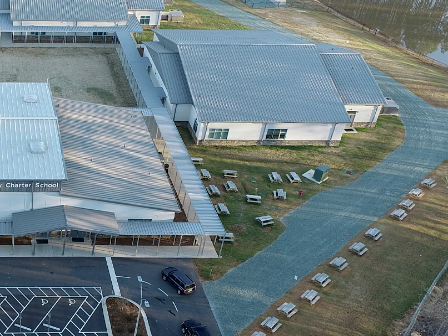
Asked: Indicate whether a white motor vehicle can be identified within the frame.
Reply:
No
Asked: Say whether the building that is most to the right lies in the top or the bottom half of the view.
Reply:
top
